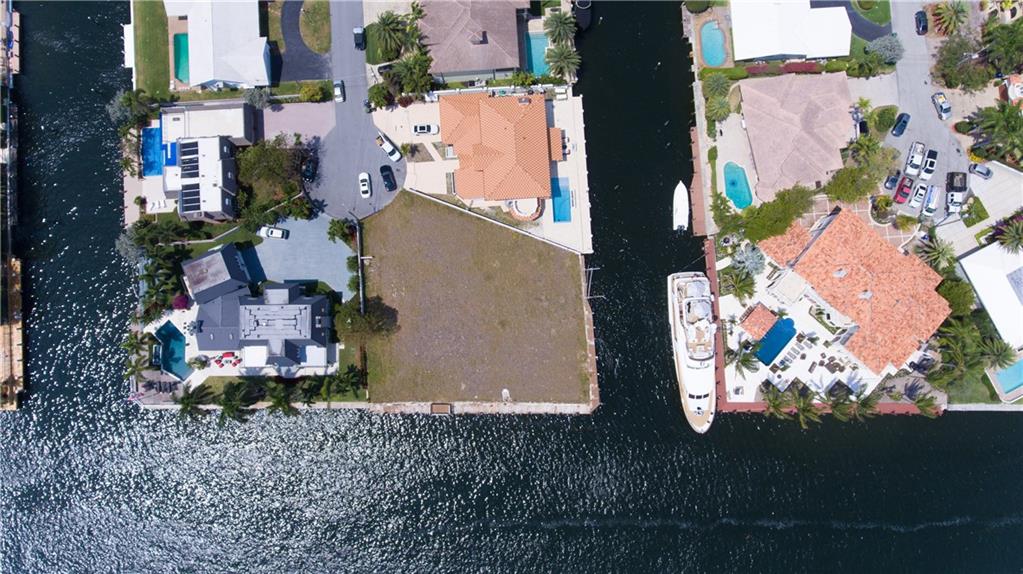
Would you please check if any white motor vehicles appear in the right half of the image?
Yes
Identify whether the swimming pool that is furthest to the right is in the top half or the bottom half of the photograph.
bottom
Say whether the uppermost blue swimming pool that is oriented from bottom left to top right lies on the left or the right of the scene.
right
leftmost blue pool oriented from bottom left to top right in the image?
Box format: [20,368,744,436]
[754,316,799,367]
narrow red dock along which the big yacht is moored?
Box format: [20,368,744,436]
[703,240,727,411]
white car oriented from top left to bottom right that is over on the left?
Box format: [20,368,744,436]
[374,133,403,162]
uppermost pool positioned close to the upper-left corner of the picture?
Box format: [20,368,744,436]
[173,32,190,85]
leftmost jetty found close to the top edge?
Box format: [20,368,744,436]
[12,12,25,75]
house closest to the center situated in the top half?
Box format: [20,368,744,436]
[439,94,563,201]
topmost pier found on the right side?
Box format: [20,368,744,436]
[680,3,694,39]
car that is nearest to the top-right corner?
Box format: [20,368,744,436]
[913,10,928,36]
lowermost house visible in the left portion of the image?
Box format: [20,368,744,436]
[182,243,342,369]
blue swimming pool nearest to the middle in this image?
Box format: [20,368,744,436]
[550,177,572,224]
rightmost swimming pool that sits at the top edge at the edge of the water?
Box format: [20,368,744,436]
[699,19,727,66]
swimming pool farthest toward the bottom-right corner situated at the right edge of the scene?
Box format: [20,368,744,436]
[992,359,1023,397]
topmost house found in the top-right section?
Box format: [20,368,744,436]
[729,0,852,64]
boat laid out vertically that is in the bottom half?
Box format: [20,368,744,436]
[667,264,718,433]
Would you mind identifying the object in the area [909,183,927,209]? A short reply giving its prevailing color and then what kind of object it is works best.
white car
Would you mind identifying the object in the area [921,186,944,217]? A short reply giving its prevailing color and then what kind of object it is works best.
white vehicle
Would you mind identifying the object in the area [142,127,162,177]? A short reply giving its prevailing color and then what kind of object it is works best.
blue swimming pool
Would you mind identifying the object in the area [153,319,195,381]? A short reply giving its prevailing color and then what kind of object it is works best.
blue swimming pool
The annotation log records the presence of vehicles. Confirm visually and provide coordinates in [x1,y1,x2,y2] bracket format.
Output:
[374,133,403,162]
[894,177,914,206]
[968,163,993,180]
[381,165,397,192]
[414,123,439,135]
[909,183,927,209]
[946,168,966,212]
[891,112,910,138]
[303,153,318,180]
[883,170,901,192]
[334,80,345,104]
[921,186,944,217]
[260,226,288,238]
[353,27,365,51]
[375,64,398,77]
[905,142,924,178]
[919,149,938,181]
[930,88,953,121]
[913,10,928,36]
